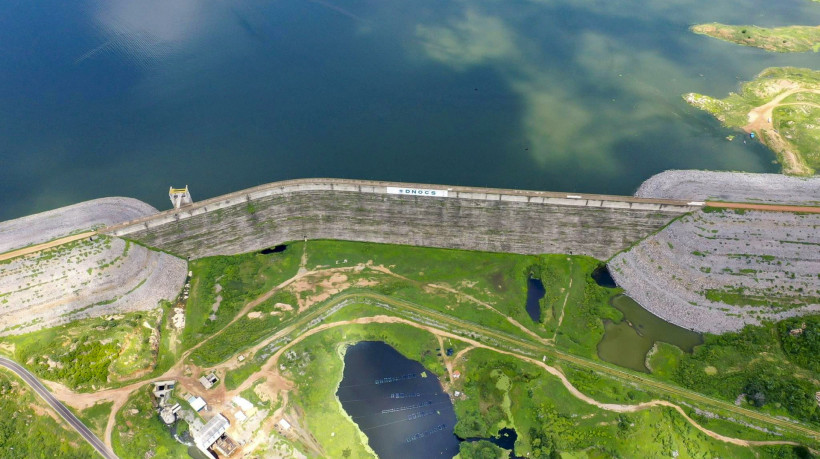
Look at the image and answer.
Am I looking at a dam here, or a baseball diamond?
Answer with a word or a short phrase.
dam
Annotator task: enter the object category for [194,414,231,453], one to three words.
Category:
building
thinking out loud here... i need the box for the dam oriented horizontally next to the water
[93,177,703,273]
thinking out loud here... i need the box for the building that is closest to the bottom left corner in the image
[154,380,176,405]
